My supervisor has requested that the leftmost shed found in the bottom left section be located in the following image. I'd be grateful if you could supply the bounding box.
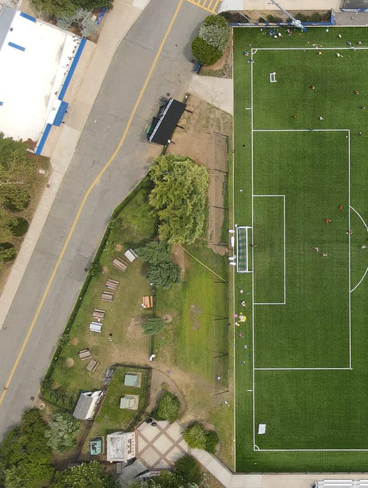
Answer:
[64,392,100,424]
